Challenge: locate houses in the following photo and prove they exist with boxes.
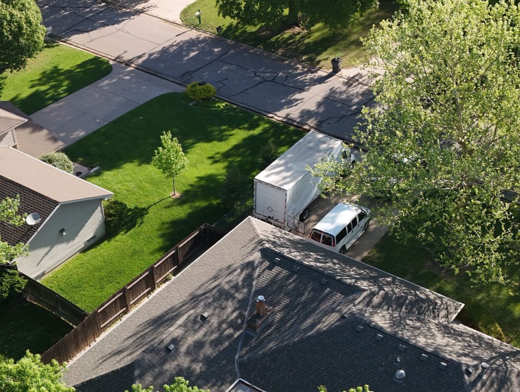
[0,100,116,283]
[39,214,520,392]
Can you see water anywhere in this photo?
No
